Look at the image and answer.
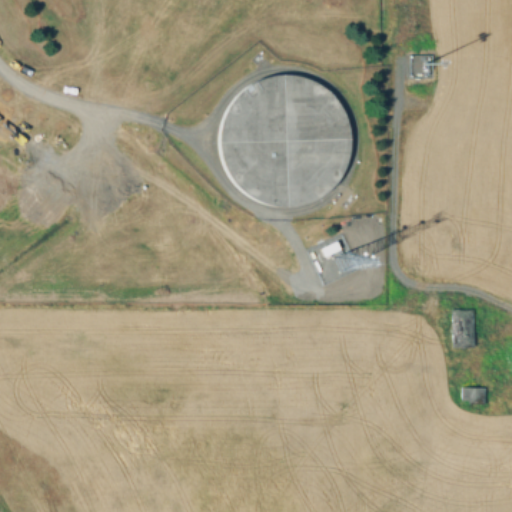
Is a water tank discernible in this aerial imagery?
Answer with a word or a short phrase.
Yes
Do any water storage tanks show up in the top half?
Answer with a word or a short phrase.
Yes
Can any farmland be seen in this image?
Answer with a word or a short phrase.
Yes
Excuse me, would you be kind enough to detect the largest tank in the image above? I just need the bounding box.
[218,75,354,208]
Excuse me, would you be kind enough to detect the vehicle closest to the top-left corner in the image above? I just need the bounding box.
[10,61,35,77]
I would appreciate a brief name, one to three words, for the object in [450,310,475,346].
building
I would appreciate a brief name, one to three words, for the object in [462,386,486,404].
building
